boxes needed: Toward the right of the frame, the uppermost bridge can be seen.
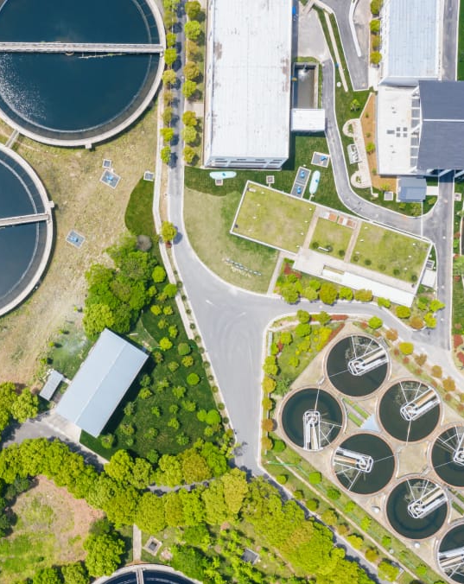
[350,336,394,376]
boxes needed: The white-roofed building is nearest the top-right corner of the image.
[376,0,441,85]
